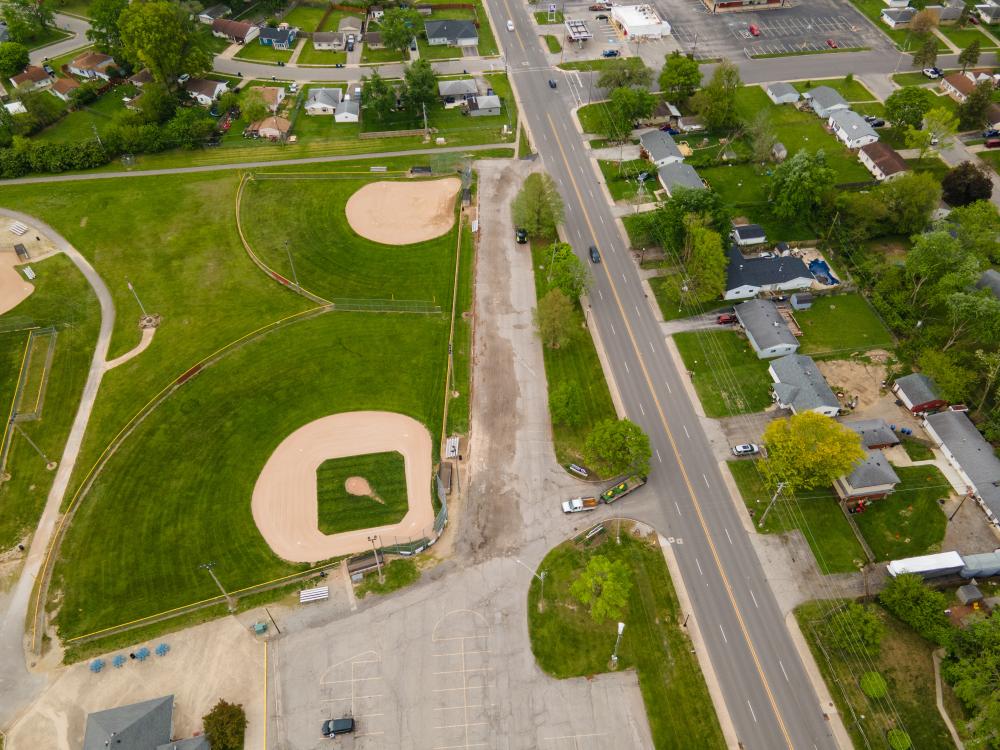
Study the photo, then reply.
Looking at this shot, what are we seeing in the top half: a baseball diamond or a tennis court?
baseball diamond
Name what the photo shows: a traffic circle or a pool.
pool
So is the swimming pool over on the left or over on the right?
right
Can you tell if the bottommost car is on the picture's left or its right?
left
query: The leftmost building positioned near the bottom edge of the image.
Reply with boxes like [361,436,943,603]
[76,688,206,750]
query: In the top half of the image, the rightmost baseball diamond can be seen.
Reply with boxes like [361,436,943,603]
[243,174,467,306]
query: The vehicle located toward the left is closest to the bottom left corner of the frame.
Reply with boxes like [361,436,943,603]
[318,716,351,735]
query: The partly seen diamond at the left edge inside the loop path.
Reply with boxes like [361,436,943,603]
[0,243,36,451]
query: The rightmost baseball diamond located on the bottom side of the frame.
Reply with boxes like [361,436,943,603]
[47,306,450,651]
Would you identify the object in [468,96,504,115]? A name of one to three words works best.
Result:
building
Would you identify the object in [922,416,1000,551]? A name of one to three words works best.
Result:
shed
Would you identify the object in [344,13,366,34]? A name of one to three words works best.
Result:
building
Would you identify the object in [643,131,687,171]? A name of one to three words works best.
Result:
house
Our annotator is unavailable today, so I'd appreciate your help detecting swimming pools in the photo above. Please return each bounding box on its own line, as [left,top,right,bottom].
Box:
[802,251,842,292]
